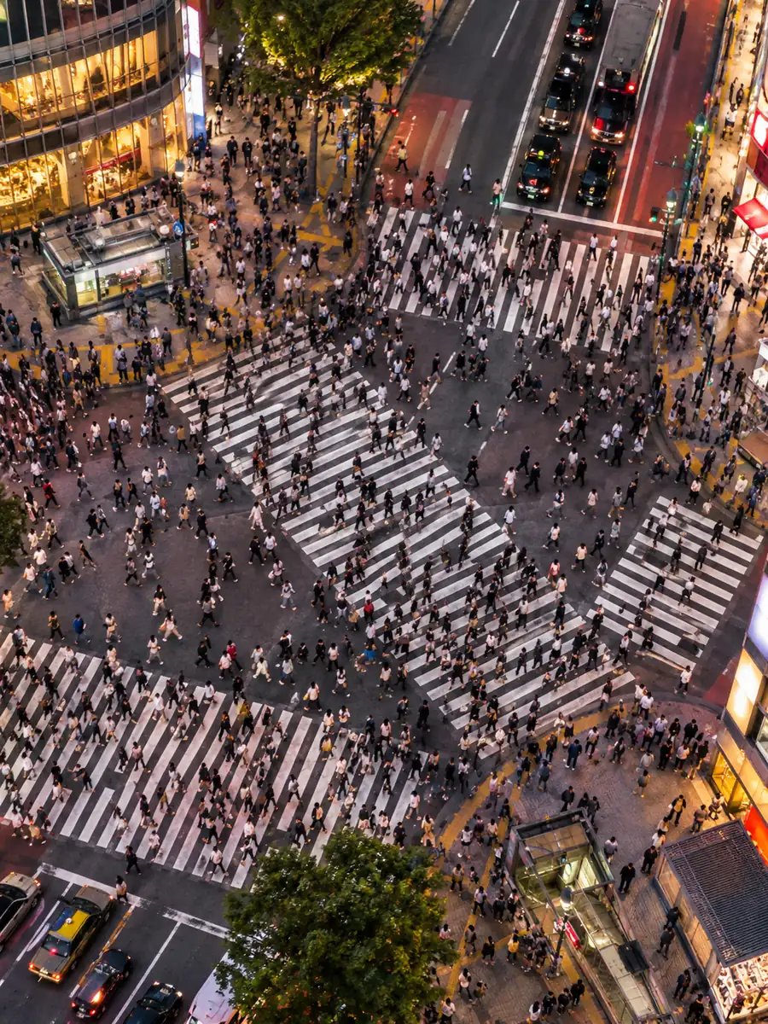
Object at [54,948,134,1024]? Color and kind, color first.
black car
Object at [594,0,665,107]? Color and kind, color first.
gray bus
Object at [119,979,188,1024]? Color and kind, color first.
black car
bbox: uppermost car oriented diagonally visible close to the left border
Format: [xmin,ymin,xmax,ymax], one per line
[23,885,112,982]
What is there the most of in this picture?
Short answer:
paved ground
